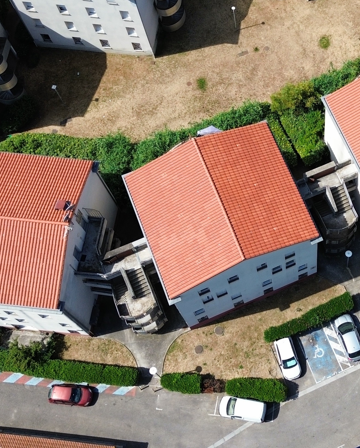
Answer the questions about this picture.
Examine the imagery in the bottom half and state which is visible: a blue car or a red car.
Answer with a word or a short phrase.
red car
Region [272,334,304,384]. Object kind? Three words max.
car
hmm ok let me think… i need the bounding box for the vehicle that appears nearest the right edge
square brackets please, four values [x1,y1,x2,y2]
[333,314,360,364]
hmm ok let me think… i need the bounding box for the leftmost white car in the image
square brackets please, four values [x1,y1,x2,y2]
[217,394,268,422]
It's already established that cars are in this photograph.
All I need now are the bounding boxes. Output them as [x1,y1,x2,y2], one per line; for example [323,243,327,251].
[333,314,360,364]
[46,384,94,407]
[272,334,304,384]
[217,394,268,422]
